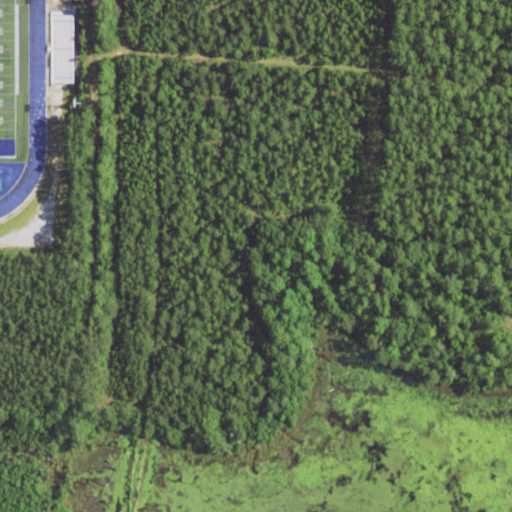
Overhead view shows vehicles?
No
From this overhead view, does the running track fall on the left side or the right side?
left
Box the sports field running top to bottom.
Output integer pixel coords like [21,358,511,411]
[0,0,28,196]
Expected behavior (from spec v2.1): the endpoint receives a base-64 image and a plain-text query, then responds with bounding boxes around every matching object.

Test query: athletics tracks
[0,0,46,219]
